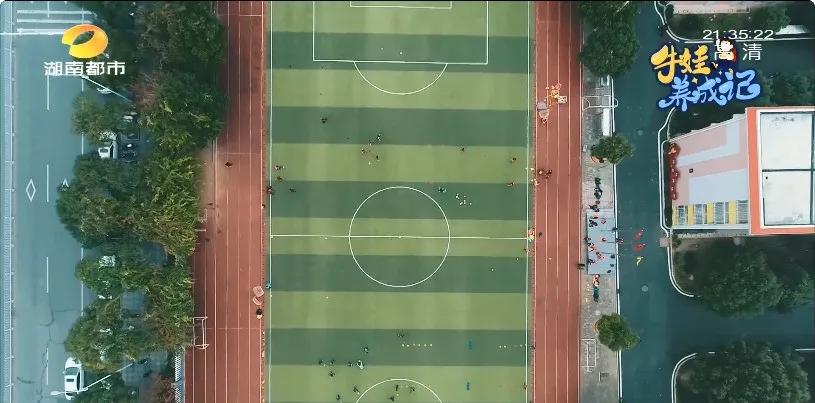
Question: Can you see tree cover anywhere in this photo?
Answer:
Yes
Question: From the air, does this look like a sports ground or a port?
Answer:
sports ground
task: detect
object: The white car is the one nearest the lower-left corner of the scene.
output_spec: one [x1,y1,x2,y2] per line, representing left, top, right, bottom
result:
[60,357,83,400]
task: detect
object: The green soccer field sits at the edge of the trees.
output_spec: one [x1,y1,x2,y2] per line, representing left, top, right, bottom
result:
[266,0,531,403]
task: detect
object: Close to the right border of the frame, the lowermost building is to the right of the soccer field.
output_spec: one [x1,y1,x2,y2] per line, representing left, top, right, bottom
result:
[669,108,815,234]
